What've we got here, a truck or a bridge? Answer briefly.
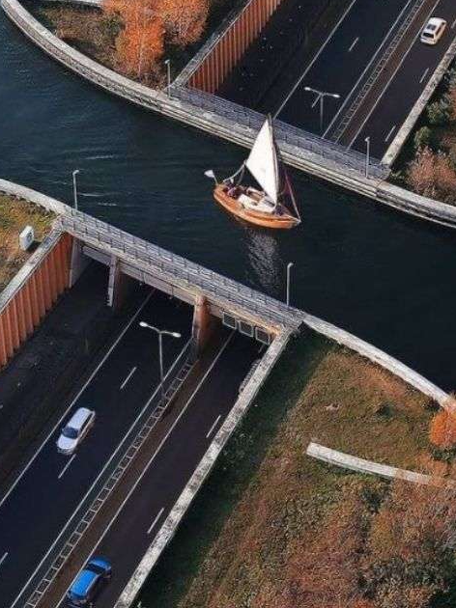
bridge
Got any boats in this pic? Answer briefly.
Yes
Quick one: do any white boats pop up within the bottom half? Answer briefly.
No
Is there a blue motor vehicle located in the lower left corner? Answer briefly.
Yes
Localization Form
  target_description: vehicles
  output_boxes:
[67,558,107,608]
[421,19,446,46]
[57,410,94,456]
